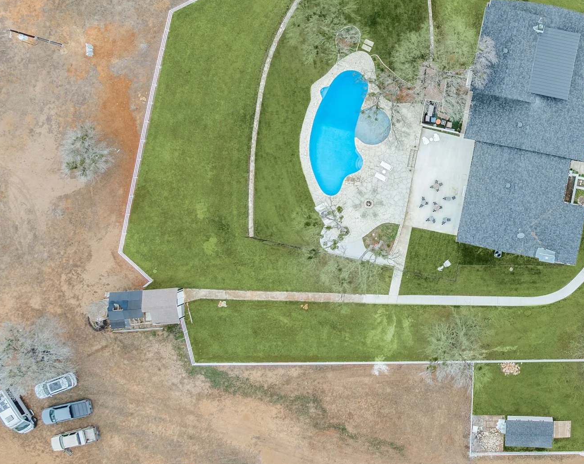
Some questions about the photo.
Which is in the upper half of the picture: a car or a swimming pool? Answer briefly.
swimming pool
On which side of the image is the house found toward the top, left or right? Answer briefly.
right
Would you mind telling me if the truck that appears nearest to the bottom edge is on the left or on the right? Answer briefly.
left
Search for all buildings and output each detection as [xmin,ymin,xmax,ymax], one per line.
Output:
[102,287,186,331]
[505,416,553,448]
[455,0,584,265]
